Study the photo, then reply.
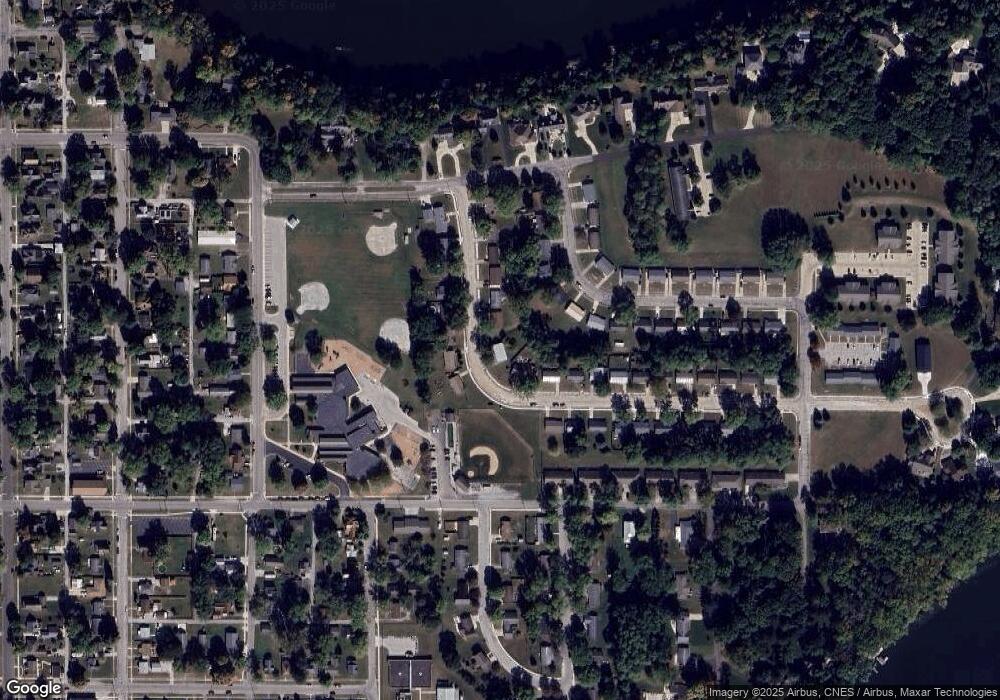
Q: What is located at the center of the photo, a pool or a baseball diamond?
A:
baseball diamond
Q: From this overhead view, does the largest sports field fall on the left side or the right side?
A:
left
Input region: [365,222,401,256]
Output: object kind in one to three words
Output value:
baseball field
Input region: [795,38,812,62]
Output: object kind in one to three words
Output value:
house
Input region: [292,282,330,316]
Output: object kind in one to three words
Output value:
baseball field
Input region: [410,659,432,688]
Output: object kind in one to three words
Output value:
building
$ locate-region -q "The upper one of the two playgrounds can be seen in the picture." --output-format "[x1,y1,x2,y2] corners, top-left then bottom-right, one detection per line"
[313,340,386,380]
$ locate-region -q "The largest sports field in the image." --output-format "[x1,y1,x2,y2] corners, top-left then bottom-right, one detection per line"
[266,201,423,362]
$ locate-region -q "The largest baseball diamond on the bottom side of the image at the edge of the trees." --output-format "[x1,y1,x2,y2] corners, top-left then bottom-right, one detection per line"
[460,409,533,484]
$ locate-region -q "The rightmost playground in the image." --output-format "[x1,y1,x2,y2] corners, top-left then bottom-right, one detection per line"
[389,424,422,465]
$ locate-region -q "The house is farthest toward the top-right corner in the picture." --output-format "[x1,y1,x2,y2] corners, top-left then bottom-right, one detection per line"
[952,56,976,73]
